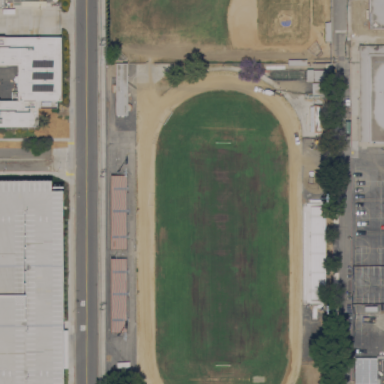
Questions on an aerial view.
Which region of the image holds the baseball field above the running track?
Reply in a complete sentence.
The baseball field above the running track is in the top part of the image.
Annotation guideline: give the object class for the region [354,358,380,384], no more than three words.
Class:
building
